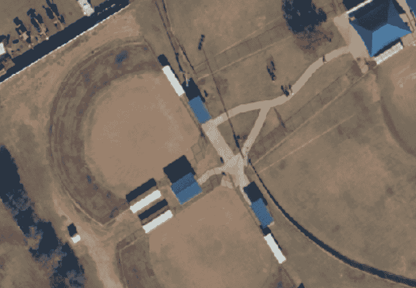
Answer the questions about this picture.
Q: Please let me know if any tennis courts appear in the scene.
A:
No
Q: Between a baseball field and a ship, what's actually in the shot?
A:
baseball field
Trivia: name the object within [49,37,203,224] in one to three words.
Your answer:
baseball field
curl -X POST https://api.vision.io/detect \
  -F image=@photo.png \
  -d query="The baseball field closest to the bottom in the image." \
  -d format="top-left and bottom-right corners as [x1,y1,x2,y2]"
[117,191,292,288]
